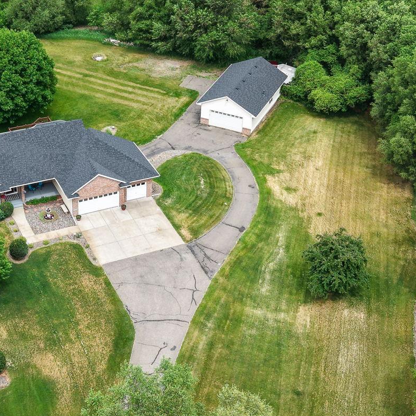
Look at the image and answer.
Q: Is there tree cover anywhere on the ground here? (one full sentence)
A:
Yes, tree cover shows up in the scene.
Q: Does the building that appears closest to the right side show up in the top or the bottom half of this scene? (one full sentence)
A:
The building that appears closest to the right side sits in the top half of the picture.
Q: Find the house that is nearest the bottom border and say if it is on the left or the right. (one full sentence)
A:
You can find the house that is nearest the bottom border on the left side of the picture.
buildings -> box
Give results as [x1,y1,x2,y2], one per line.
[0,111,161,224]
[195,57,289,135]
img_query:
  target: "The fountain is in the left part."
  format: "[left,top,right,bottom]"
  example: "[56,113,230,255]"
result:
[39,206,58,222]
